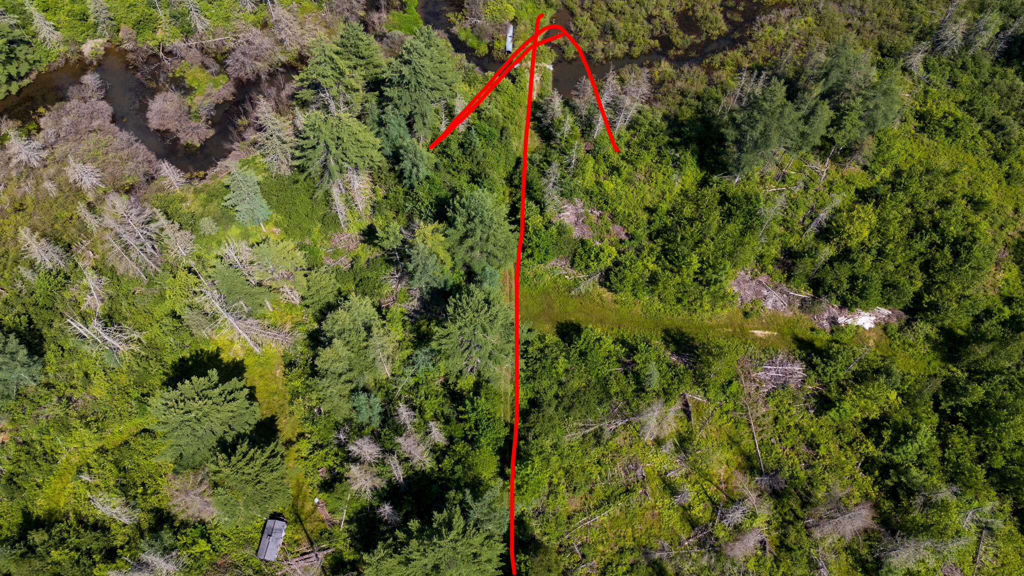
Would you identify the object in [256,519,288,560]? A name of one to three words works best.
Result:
shed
